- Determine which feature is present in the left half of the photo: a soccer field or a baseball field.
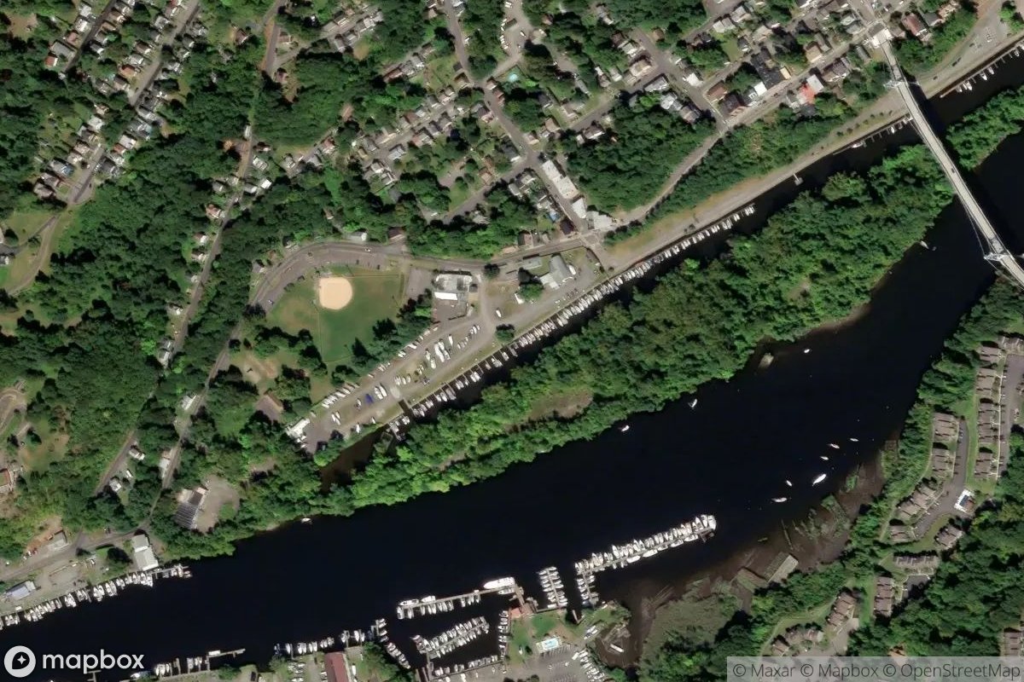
baseball field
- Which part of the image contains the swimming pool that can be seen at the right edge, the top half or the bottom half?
bottom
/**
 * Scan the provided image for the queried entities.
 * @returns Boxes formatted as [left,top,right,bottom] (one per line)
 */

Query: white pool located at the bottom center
[538,638,563,653]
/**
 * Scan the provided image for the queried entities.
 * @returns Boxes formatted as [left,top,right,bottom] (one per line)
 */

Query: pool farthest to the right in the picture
[952,487,975,513]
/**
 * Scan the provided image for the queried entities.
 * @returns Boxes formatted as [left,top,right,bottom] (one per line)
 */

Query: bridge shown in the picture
[868,21,1024,305]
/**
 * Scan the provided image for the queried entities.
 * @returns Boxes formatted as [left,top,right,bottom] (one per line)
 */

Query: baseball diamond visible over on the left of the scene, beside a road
[267,269,404,362]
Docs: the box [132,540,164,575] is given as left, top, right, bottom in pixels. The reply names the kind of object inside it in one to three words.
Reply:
building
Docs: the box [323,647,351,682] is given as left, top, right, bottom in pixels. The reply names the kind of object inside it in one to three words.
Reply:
barn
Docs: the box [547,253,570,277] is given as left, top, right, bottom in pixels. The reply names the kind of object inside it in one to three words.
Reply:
shed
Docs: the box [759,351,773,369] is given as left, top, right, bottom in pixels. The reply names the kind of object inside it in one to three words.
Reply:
ship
